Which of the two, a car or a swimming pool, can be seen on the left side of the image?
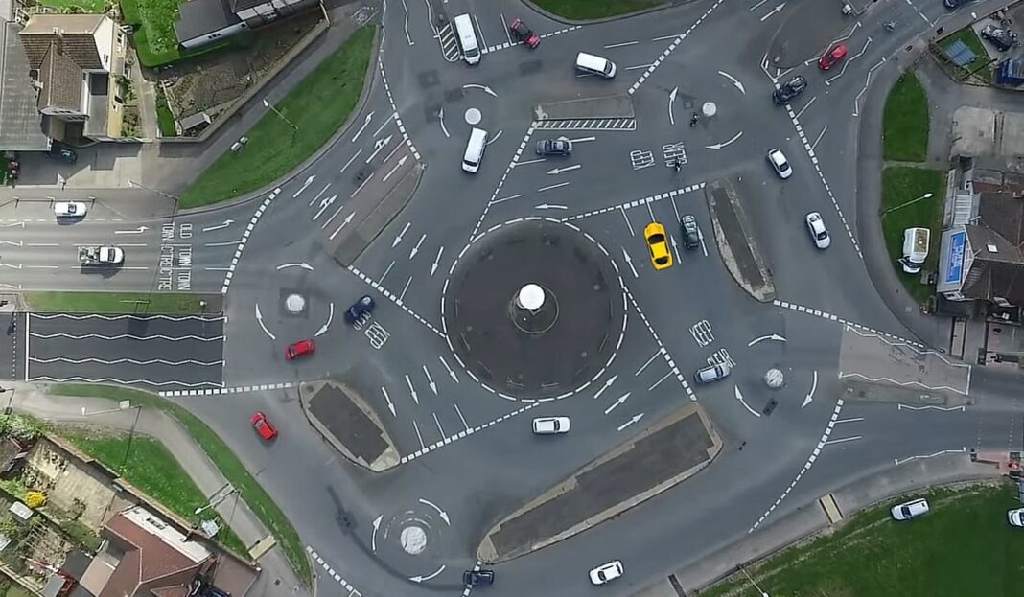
car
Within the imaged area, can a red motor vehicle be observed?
Yes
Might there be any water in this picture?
No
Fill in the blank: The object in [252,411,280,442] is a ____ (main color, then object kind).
red car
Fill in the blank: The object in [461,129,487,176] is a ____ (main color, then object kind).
white vehicle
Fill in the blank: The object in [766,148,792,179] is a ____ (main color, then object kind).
white car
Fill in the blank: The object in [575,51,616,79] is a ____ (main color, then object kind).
white van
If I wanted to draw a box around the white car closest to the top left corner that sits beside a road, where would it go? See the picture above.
[54,200,90,217]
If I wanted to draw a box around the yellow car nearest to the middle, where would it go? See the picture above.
[644,221,674,272]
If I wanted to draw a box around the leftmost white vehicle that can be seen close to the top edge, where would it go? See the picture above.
[455,11,482,69]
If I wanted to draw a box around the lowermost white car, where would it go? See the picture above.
[588,560,624,583]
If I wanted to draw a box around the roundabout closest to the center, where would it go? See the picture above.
[442,217,628,402]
